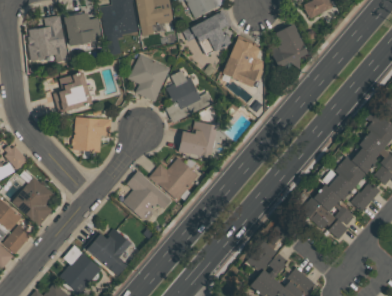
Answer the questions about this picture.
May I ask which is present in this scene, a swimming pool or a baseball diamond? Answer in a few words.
swimming pool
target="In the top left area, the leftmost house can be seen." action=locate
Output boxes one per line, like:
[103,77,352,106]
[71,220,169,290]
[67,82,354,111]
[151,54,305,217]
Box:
[26,16,67,61]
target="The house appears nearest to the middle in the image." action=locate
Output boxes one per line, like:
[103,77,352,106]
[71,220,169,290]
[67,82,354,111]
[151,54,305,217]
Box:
[179,122,215,156]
